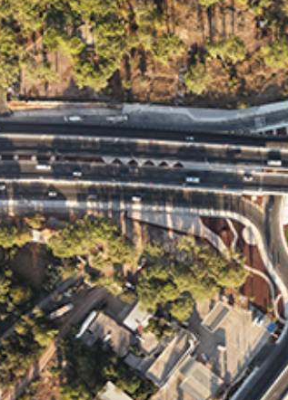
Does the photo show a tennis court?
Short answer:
No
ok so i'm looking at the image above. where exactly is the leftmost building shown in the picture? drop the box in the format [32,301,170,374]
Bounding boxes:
[85,333,113,359]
